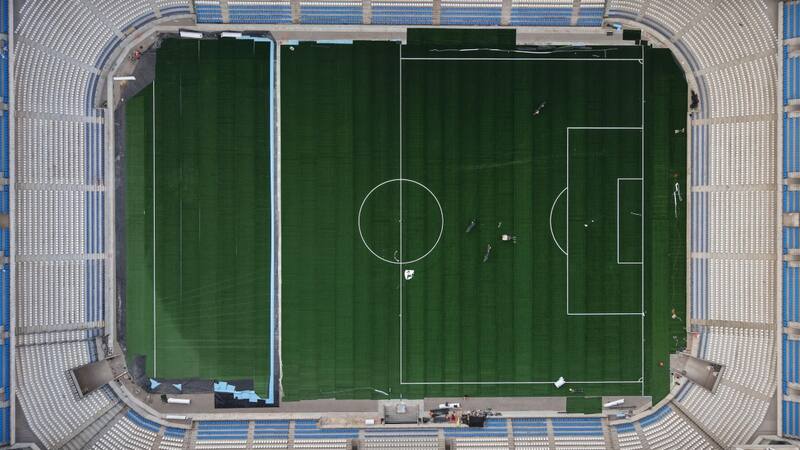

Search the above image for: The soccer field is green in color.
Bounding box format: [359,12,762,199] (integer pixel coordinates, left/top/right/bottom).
[126,39,685,402]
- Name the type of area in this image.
sports ground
